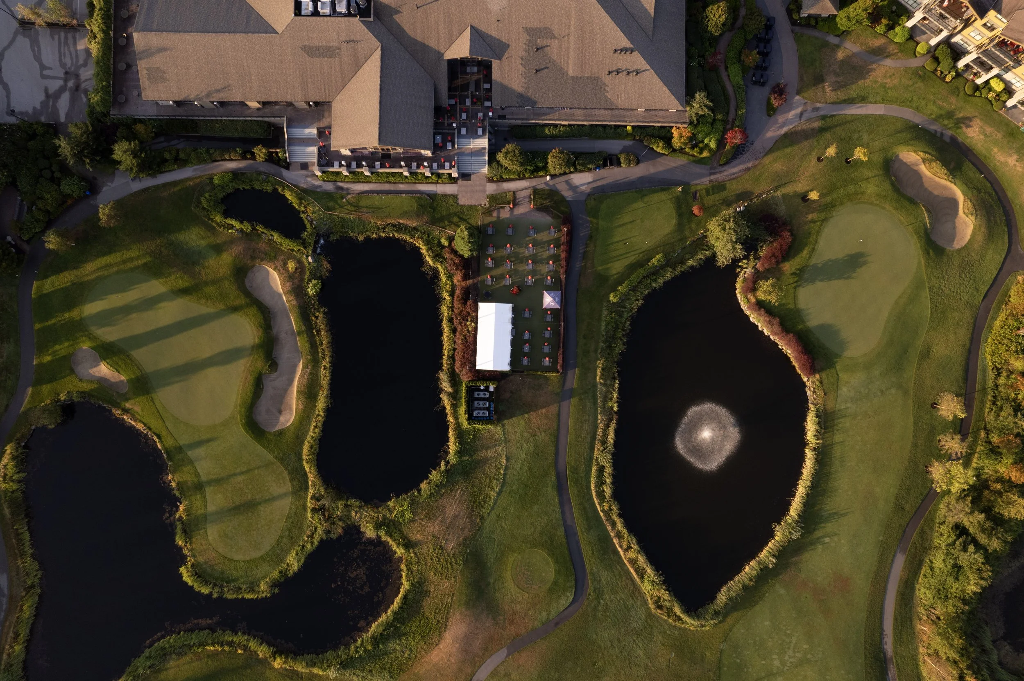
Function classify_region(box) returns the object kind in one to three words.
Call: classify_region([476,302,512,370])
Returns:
tent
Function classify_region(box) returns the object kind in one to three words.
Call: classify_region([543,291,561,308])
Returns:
umbrella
